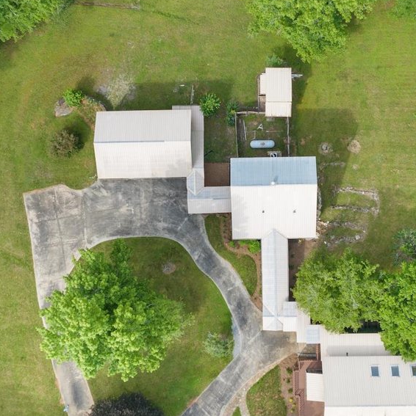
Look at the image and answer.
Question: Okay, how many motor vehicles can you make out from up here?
none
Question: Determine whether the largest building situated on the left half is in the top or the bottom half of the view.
top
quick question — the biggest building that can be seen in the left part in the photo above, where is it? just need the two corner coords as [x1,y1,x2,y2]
[94,109,192,178]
